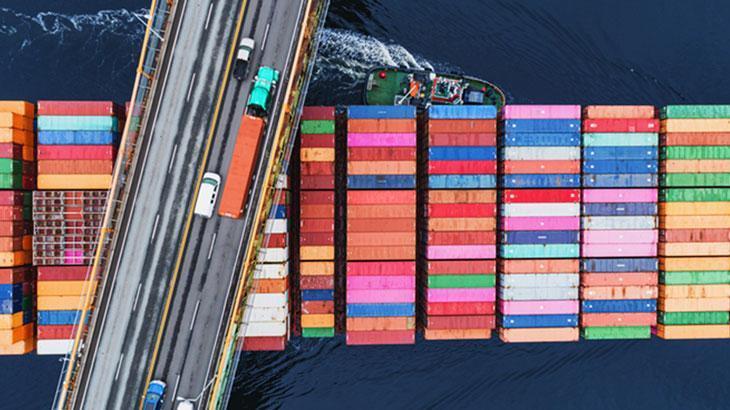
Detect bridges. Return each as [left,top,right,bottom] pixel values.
[47,0,331,410]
